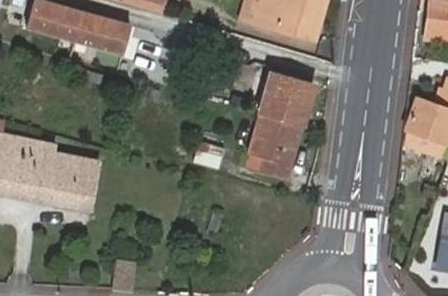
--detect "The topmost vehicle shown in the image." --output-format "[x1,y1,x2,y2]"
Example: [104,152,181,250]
[138,42,163,56]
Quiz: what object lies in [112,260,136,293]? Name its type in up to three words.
building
